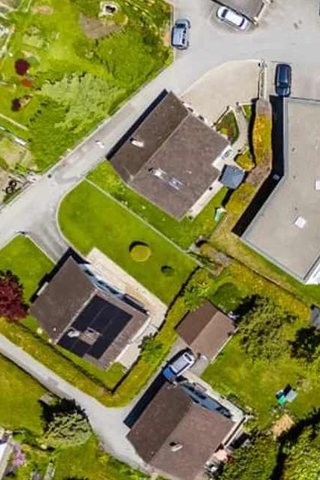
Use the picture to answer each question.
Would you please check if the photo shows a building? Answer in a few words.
Yes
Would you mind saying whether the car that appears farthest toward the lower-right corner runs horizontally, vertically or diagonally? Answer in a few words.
diagonally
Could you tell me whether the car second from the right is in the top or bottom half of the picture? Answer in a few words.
top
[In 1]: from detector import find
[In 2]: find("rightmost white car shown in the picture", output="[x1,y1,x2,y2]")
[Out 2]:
[214,9,250,35]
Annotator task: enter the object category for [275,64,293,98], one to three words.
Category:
car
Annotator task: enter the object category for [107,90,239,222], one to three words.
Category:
house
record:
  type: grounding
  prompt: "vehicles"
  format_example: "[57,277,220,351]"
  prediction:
[275,64,293,98]
[173,18,191,51]
[214,9,250,35]
[163,348,200,382]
